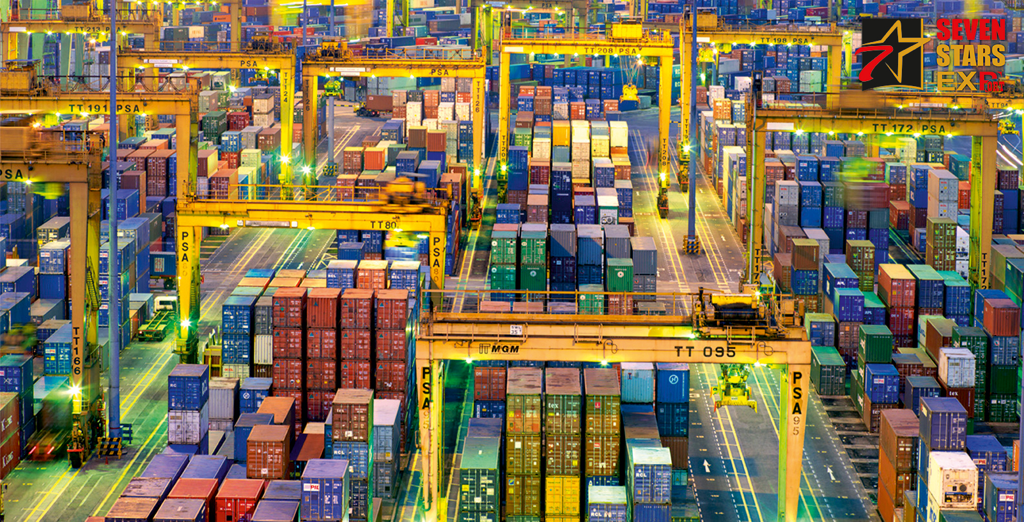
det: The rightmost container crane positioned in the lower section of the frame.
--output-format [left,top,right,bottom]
[418,294,820,522]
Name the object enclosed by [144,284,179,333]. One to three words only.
truck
